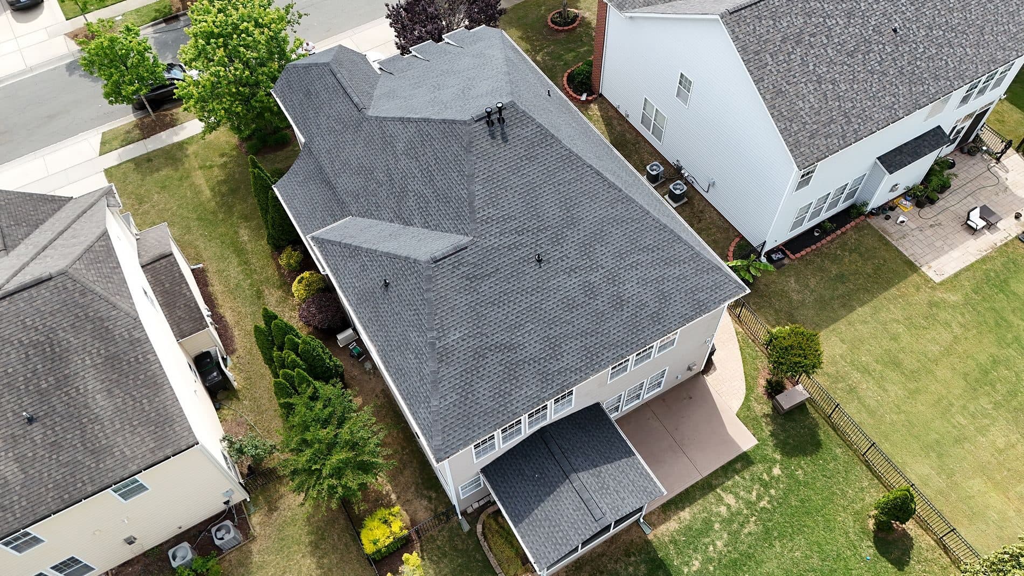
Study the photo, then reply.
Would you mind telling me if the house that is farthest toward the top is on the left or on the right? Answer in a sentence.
The house that is farthest toward the top appears in the right half of the scene.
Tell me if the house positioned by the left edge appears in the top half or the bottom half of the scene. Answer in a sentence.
You can find the house positioned by the left edge in the bottom half.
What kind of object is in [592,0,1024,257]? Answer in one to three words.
house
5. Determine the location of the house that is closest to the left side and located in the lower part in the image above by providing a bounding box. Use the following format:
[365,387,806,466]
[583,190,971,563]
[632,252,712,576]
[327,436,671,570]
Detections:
[0,184,249,576]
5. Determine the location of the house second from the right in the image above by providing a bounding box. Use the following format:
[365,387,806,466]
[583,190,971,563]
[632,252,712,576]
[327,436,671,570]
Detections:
[270,26,753,576]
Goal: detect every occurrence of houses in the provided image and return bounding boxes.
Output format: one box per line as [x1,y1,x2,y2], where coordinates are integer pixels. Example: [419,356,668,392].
[270,26,753,576]
[592,0,1024,257]
[0,184,249,576]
